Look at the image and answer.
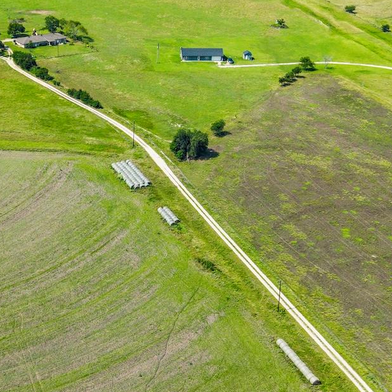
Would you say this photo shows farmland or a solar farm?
farmland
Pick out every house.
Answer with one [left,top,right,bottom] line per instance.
[179,45,223,61]
[16,29,68,48]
